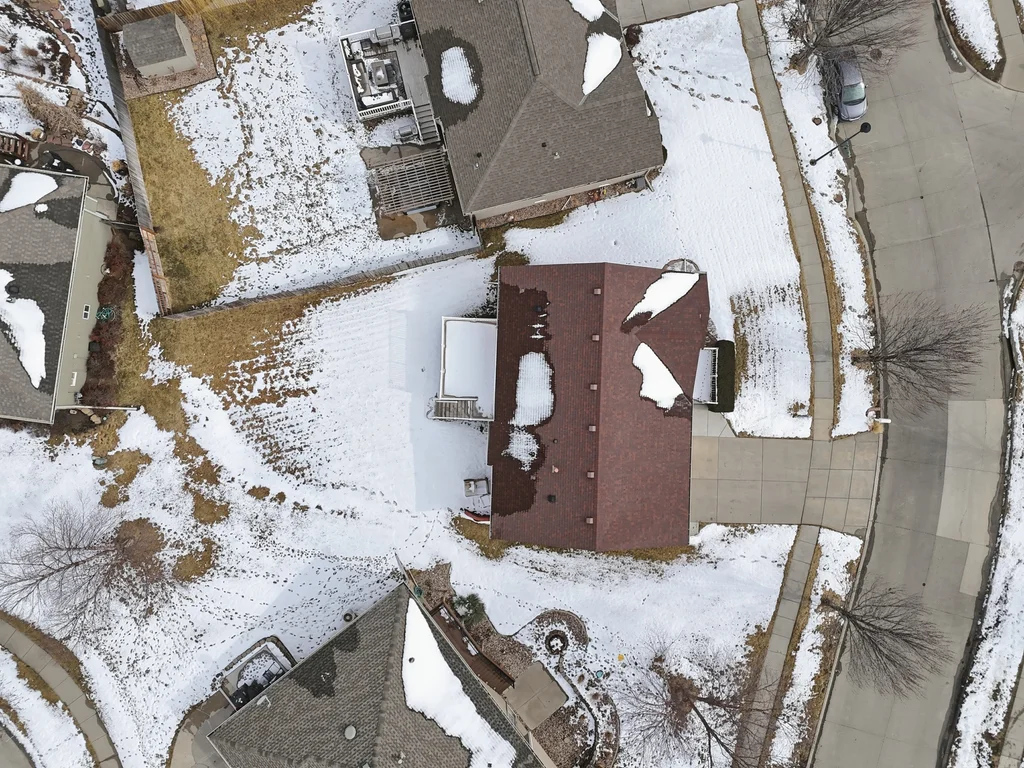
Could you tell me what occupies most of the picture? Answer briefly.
grass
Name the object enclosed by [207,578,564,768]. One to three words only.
house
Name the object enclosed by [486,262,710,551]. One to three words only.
house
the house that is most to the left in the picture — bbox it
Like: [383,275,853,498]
[0,158,114,425]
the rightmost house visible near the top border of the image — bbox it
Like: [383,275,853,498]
[410,0,664,220]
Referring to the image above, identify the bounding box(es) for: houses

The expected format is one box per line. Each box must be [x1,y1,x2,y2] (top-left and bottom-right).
[486,262,710,551]
[0,158,114,425]
[410,0,664,220]
[207,578,564,768]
